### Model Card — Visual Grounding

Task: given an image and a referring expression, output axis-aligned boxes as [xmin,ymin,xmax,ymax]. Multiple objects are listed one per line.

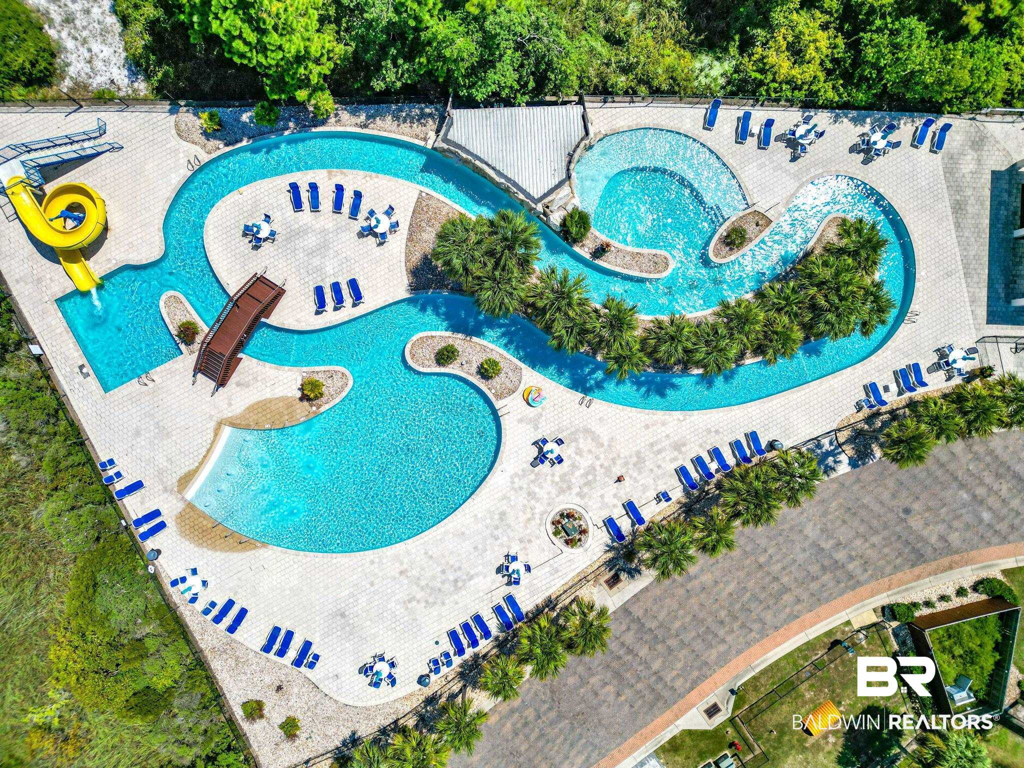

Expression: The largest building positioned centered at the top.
[428,87,603,225]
